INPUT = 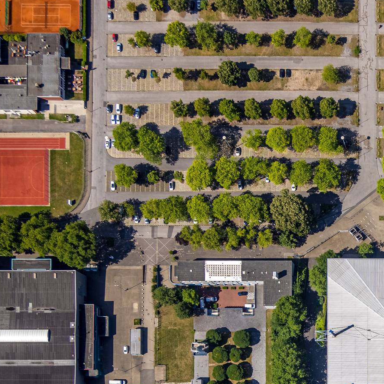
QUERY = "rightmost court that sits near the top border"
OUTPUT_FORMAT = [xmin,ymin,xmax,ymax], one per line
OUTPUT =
[19,1,73,29]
